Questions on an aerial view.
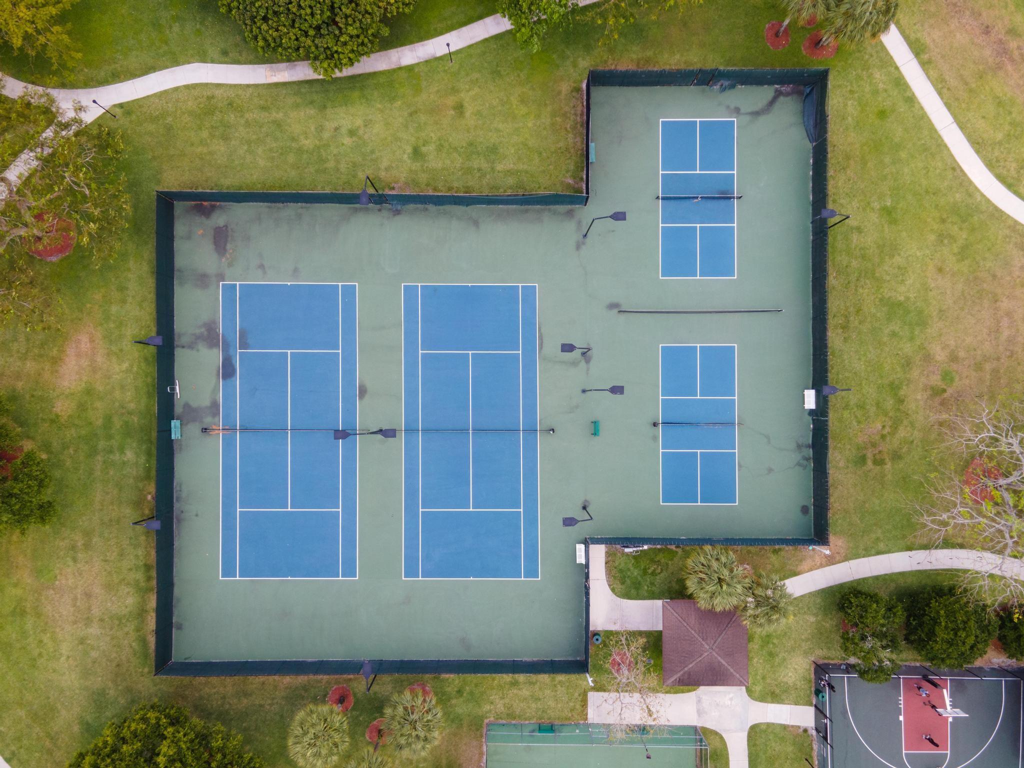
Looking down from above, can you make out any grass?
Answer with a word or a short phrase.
Yes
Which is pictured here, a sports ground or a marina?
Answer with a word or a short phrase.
sports ground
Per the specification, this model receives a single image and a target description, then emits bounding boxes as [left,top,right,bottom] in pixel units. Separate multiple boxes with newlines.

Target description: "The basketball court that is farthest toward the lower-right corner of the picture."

[814,663,1024,768]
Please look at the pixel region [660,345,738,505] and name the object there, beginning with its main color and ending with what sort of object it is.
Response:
blue sports court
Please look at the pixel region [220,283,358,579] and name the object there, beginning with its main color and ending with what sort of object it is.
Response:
blue tennis court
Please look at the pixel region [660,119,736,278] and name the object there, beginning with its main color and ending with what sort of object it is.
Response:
blue sports court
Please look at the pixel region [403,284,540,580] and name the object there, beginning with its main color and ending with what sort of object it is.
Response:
blue tennis court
